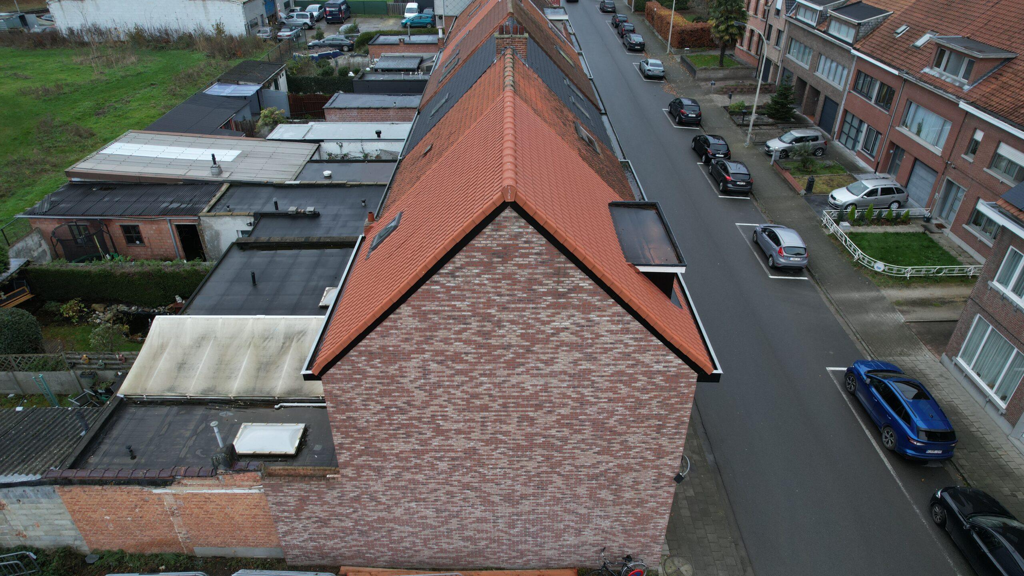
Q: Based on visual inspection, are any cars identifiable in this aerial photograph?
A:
Yes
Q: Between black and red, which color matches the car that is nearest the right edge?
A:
black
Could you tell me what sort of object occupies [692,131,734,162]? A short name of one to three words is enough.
car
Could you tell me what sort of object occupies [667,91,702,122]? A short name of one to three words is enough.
car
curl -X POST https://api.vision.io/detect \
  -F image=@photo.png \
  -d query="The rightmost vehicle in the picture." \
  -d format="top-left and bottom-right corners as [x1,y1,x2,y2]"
[927,485,1024,576]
